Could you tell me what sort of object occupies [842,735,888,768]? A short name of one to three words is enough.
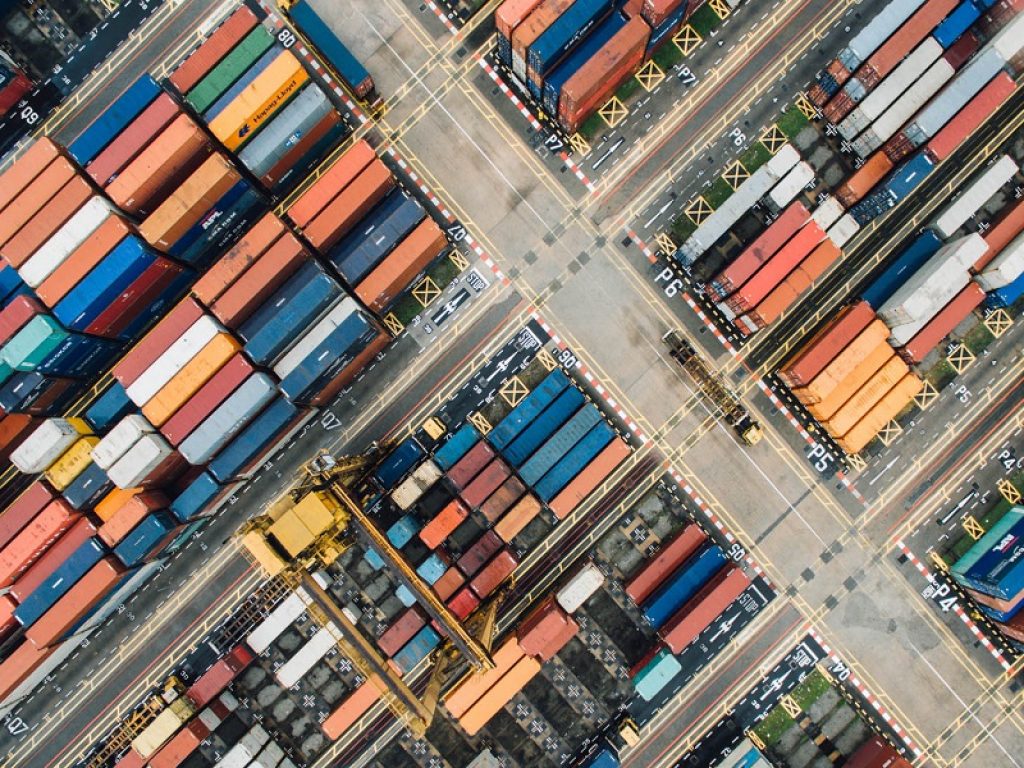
shipping container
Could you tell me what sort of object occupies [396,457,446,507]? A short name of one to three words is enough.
shipping container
